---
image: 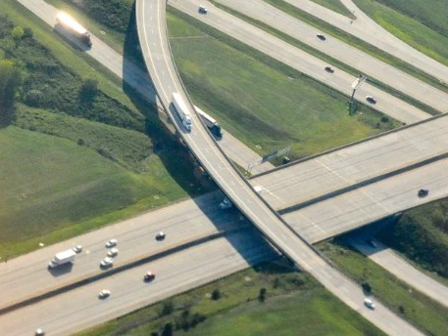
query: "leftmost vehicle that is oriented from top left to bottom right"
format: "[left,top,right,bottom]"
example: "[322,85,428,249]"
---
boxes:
[54,12,92,47]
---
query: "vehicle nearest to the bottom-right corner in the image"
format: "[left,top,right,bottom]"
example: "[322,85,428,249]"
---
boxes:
[361,295,377,308]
